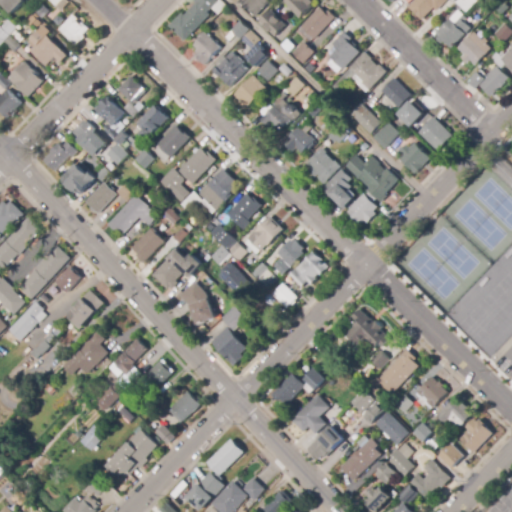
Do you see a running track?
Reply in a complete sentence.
No, there is no running track in the image.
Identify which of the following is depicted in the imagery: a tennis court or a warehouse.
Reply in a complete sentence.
Visible in the photo is a tennis court.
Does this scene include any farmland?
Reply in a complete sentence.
No, the scene doesn't show any farmland.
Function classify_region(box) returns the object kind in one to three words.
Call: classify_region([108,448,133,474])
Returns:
building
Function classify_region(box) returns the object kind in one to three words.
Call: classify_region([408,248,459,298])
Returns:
tennis court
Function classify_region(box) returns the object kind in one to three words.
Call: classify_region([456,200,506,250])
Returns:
tennis court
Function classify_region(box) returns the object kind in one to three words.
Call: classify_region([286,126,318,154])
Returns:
house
